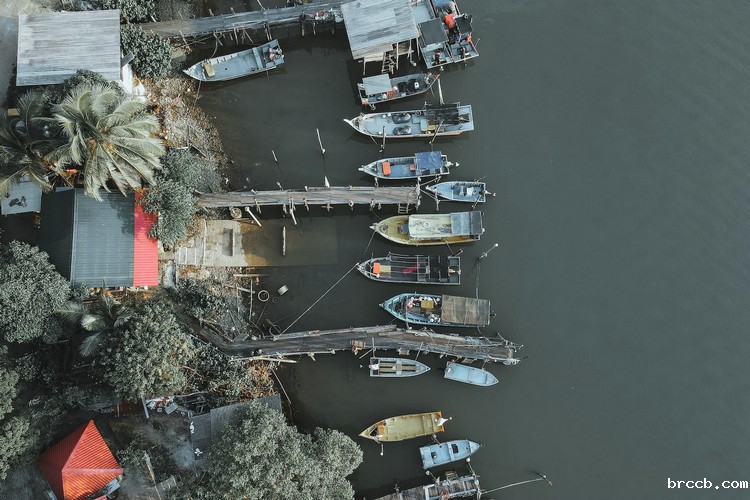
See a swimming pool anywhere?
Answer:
No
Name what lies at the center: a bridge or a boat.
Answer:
boat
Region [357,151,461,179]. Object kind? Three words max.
boat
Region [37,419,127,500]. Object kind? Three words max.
shed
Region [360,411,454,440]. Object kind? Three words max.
boat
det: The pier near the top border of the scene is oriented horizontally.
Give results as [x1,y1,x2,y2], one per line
[143,0,342,51]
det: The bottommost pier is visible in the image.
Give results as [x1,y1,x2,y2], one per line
[366,470,478,500]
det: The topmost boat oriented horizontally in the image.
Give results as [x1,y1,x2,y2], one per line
[182,43,292,81]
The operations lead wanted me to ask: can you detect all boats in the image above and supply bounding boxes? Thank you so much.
[423,0,478,72]
[437,361,498,386]
[341,102,479,137]
[357,255,469,283]
[352,72,438,107]
[357,151,461,179]
[379,293,498,327]
[406,0,453,78]
[420,438,483,469]
[369,211,489,245]
[361,357,431,378]
[182,43,292,81]
[424,181,497,201]
[360,411,454,440]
